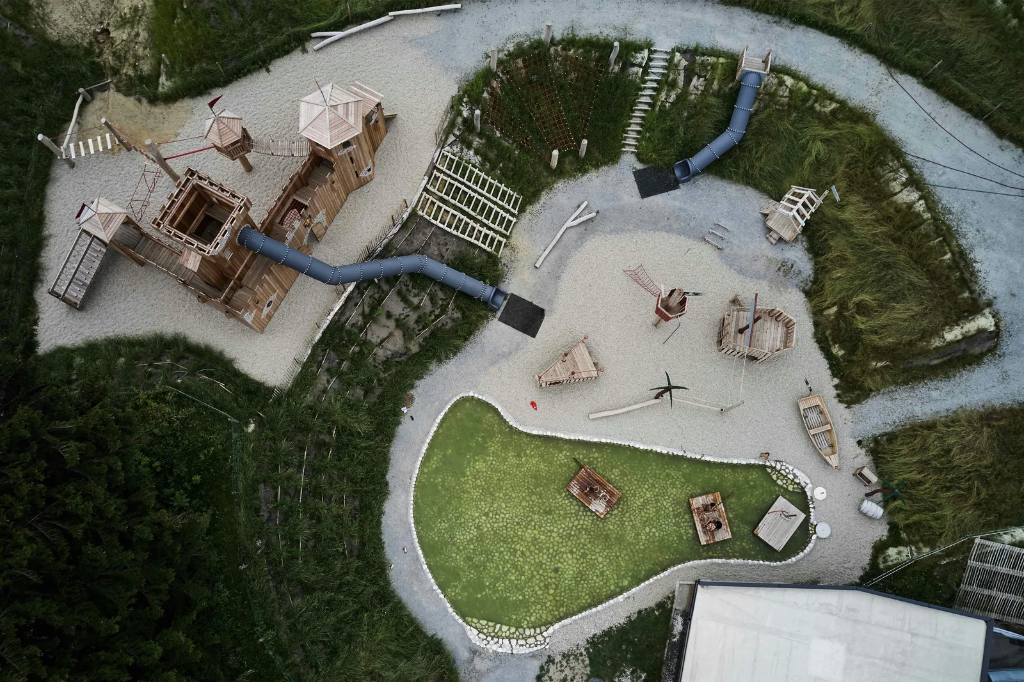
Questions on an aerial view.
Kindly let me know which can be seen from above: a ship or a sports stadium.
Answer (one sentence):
The image shows a ship.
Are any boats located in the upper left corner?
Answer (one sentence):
No, the scene shows no boat in the upper left corner.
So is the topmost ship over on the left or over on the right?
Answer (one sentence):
It is on the right.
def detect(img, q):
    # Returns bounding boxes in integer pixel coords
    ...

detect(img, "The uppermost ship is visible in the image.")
[717,293,797,364]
